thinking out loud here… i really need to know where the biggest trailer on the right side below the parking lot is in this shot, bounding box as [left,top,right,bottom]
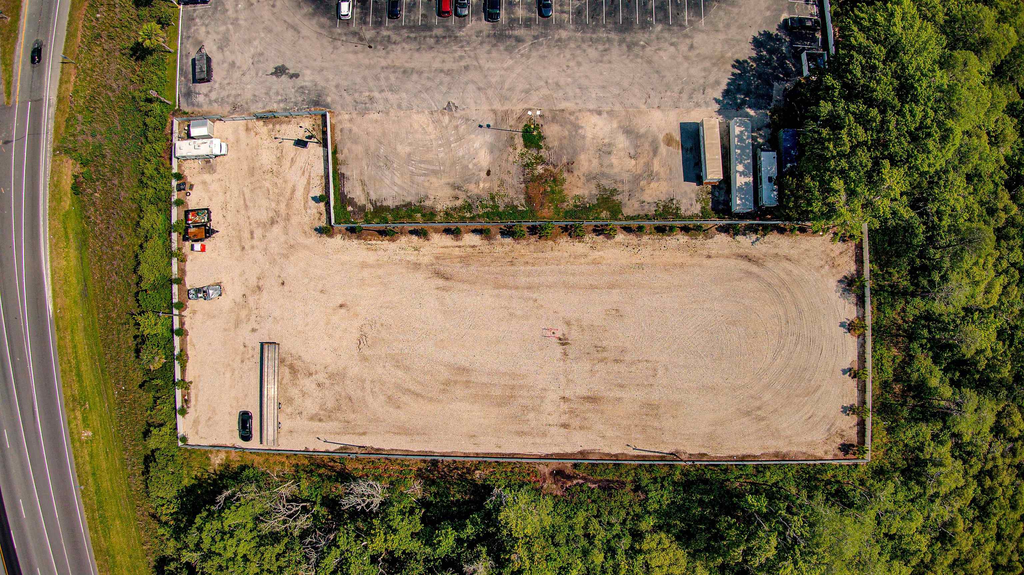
[729,118,753,214]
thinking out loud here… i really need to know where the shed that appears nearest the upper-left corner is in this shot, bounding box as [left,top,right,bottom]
[189,119,215,140]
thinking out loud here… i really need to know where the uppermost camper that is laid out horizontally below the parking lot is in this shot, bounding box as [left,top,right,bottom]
[176,139,234,160]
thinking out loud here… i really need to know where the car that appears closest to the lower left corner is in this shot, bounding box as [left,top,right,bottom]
[237,411,253,442]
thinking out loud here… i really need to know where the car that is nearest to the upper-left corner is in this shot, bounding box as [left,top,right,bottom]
[27,40,44,65]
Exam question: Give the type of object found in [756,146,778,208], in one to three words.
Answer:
vehicle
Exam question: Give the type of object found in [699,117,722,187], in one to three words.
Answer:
trailer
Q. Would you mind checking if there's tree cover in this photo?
Yes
